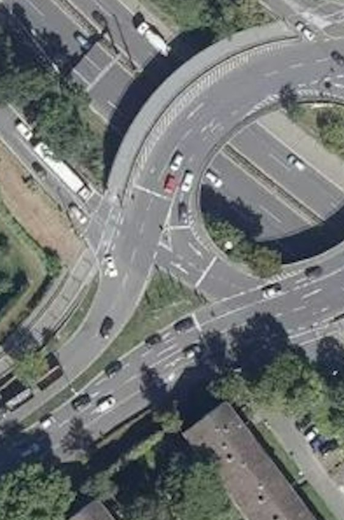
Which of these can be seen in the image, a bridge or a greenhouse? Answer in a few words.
bridge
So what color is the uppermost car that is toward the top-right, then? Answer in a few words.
white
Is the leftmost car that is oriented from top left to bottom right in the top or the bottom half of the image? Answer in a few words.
top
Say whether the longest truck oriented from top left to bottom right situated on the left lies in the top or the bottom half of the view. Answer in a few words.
top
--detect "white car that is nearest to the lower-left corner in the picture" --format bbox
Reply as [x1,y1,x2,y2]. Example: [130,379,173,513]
[37,415,57,432]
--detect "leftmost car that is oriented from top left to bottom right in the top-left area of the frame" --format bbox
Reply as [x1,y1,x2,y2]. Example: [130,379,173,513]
[13,122,33,143]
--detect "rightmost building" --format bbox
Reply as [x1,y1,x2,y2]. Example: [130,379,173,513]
[183,403,315,520]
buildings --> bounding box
[66,501,111,520]
[183,403,315,520]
